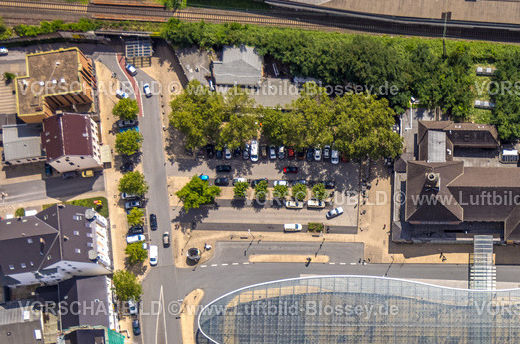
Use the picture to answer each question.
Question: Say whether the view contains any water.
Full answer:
No, there is no water in the image.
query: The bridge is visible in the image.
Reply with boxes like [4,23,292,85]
[91,0,161,33]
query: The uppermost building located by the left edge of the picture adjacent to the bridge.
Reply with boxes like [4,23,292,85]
[15,48,102,131]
